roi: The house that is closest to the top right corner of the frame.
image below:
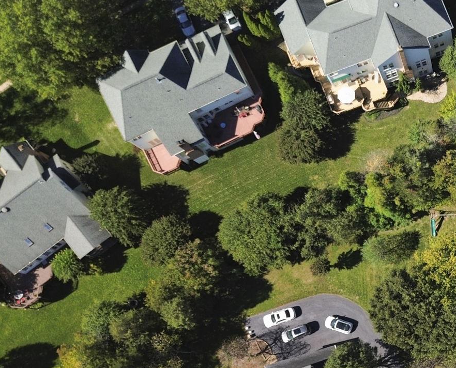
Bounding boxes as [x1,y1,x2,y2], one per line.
[274,0,454,120]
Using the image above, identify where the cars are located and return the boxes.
[324,315,356,335]
[281,324,313,342]
[263,307,298,326]
[222,4,244,35]
[180,6,196,37]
